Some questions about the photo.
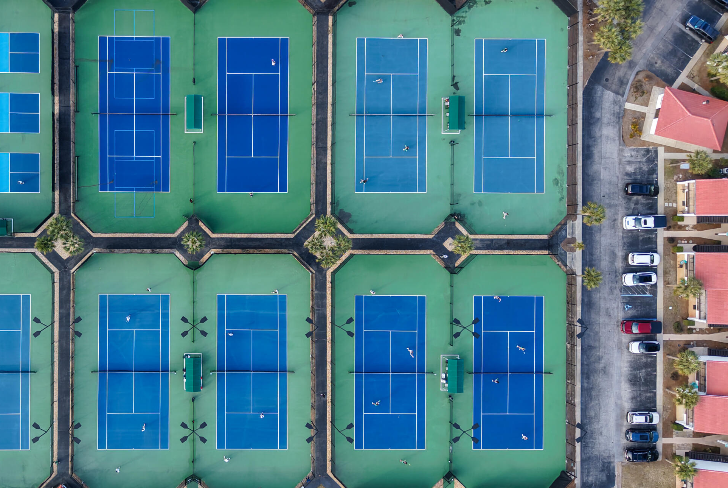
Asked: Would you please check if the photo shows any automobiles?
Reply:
Yes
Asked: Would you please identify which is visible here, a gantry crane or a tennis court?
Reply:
tennis court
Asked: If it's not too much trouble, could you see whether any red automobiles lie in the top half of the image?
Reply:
No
